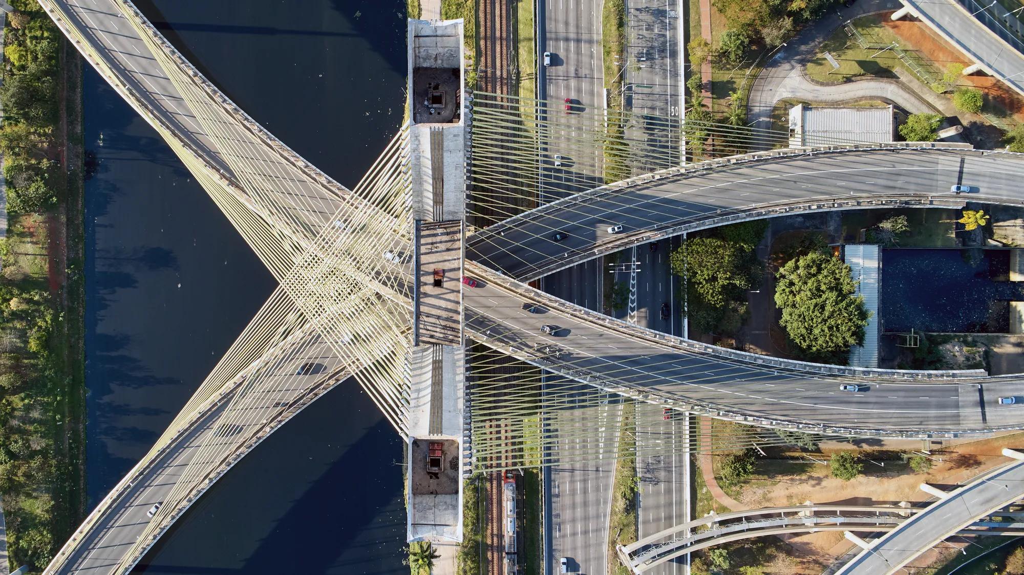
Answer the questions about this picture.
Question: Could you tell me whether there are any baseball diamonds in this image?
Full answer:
No, I can't see a single baseball diamond in this photo.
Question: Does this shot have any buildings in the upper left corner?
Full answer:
No, there is no building in the upper left corner.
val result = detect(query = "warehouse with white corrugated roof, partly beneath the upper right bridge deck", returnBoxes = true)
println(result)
[789,102,896,147]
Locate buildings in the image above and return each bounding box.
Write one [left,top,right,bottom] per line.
[789,102,896,147]
[837,244,882,368]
